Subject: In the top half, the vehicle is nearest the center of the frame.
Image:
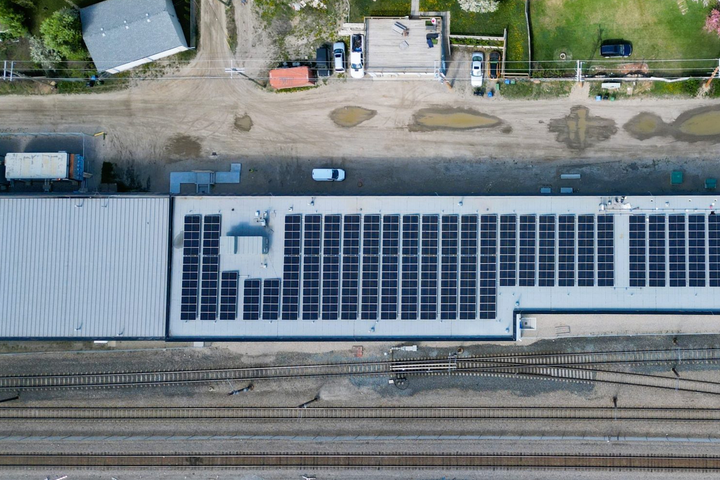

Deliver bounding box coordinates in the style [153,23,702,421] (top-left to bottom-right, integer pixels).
[310,168,345,182]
